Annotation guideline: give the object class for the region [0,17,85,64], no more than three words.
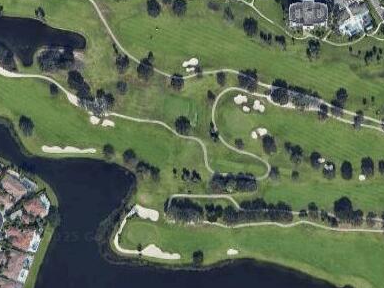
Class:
pond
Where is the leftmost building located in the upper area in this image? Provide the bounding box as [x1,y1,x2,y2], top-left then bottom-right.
[288,0,327,29]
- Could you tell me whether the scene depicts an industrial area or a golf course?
golf course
